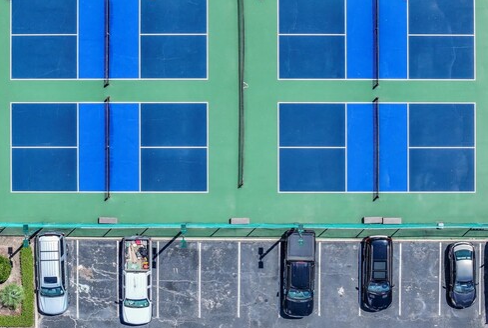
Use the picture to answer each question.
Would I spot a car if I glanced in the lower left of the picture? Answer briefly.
Yes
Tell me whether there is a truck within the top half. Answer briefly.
No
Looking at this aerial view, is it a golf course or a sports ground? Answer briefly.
sports ground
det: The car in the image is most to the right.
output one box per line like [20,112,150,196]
[448,242,482,310]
